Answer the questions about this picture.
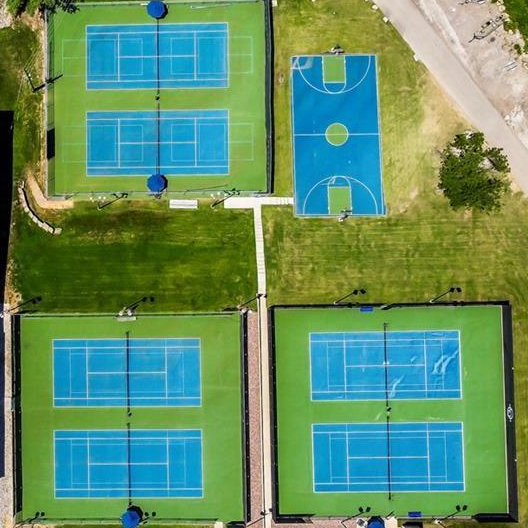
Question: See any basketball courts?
Yes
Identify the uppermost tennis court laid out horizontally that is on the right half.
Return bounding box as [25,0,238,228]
[272,307,505,412]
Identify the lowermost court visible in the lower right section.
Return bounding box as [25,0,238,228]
[272,410,508,517]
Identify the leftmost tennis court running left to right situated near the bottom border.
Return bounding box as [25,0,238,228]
[18,418,245,522]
